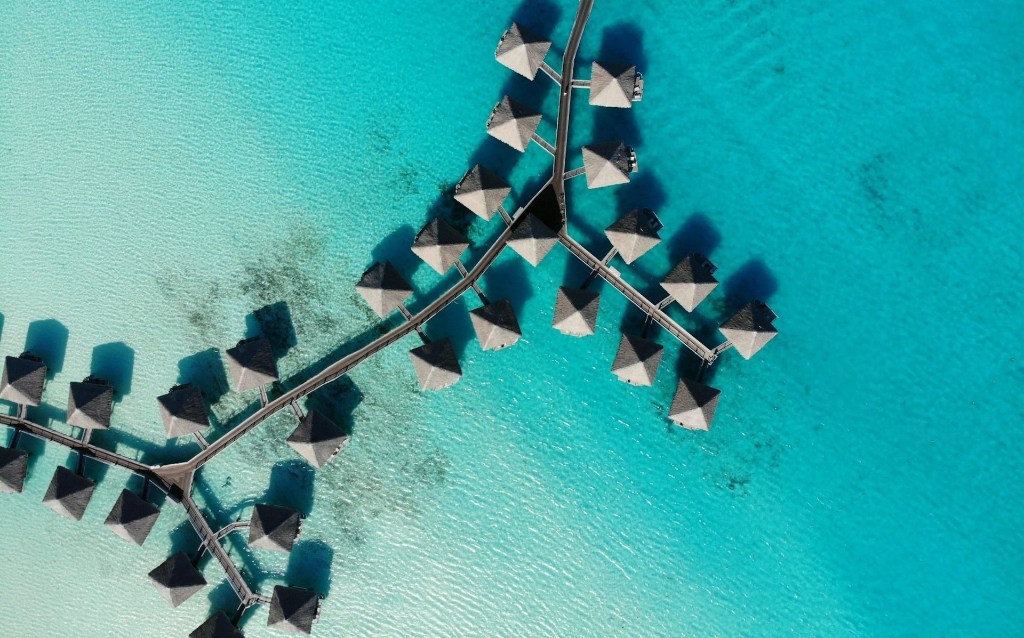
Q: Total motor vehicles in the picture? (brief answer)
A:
0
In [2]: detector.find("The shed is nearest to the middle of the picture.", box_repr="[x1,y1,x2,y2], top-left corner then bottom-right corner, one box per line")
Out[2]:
[467,296,524,352]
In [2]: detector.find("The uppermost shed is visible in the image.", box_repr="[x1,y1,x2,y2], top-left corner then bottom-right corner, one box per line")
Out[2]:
[494,22,552,81]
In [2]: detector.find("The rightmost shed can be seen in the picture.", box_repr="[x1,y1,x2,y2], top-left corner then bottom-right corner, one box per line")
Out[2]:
[719,300,778,360]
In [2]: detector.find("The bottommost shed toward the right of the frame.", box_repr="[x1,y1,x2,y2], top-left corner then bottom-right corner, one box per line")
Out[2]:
[667,377,721,431]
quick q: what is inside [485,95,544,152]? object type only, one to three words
shed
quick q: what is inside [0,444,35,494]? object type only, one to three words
shed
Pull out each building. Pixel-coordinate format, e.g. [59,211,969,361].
[0,444,35,494]
[0,353,52,408]
[188,611,249,638]
[609,332,664,387]
[719,300,778,360]
[667,377,721,431]
[66,376,117,429]
[355,258,415,319]
[467,296,524,352]
[103,488,163,546]
[602,206,664,266]
[41,465,100,521]
[579,139,639,190]
[287,408,348,468]
[149,548,210,607]
[453,163,512,222]
[268,585,324,634]
[156,383,210,439]
[249,503,305,553]
[506,213,560,267]
[485,95,544,152]
[588,60,644,110]
[552,286,602,338]
[494,22,552,81]
[408,336,464,391]
[659,252,720,313]
[226,336,280,391]
[410,216,471,276]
